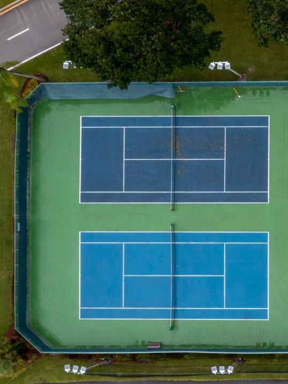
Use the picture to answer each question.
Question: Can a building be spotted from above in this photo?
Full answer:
No, the picture doesn't show any building.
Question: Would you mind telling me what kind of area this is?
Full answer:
This image shows a sports ground.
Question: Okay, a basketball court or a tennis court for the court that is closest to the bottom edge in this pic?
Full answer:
The court that is closest to the bottom edge is a tennis court.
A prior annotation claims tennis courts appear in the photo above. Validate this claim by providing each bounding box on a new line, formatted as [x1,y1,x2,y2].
[80,116,269,203]
[80,231,269,319]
